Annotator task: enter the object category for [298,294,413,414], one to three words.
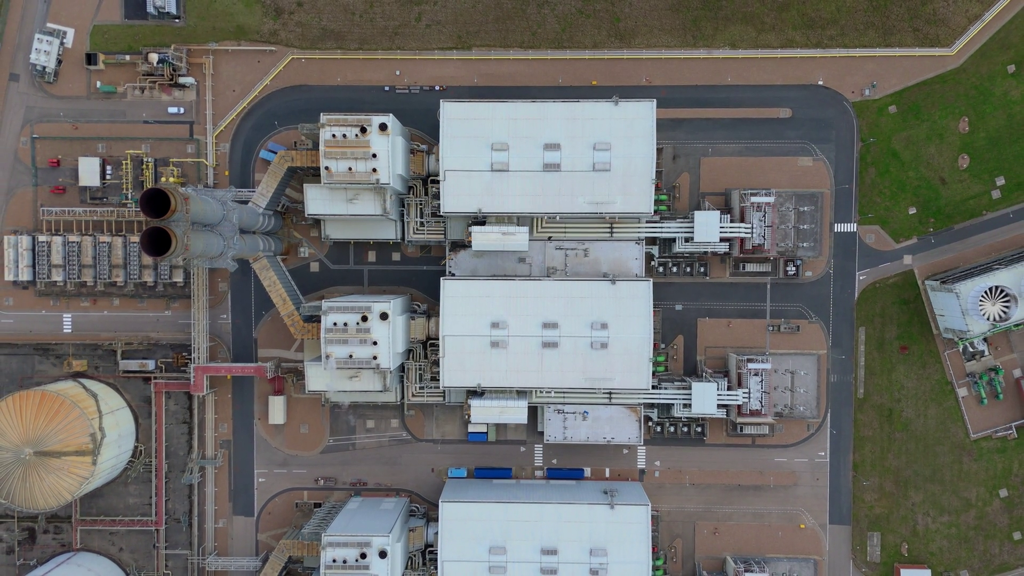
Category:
building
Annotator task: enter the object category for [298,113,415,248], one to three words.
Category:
building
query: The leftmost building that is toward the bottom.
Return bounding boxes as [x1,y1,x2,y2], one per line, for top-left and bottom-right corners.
[269,395,286,424]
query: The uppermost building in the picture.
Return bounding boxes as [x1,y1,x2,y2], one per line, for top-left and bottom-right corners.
[32,27,70,80]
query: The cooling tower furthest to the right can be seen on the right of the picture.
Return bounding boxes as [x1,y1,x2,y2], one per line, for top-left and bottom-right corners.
[921,240,1024,339]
